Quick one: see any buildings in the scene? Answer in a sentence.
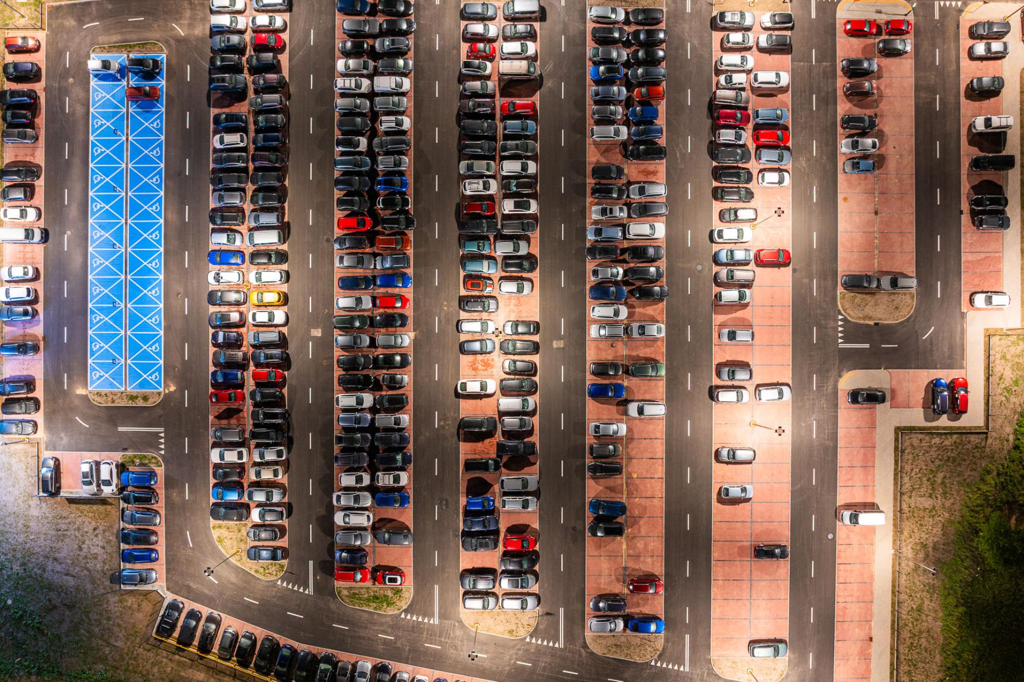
No, the picture doesn't show any building.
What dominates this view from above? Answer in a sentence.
The largest share of the image is taken up by paved ground.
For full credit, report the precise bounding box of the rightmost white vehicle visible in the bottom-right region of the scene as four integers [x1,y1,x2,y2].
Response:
[839,508,888,527]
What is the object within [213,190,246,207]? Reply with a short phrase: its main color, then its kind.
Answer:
gray car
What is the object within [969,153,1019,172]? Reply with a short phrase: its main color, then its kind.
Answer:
black vehicle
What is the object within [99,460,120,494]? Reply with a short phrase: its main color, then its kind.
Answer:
white car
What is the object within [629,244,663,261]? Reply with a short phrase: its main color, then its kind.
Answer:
black car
